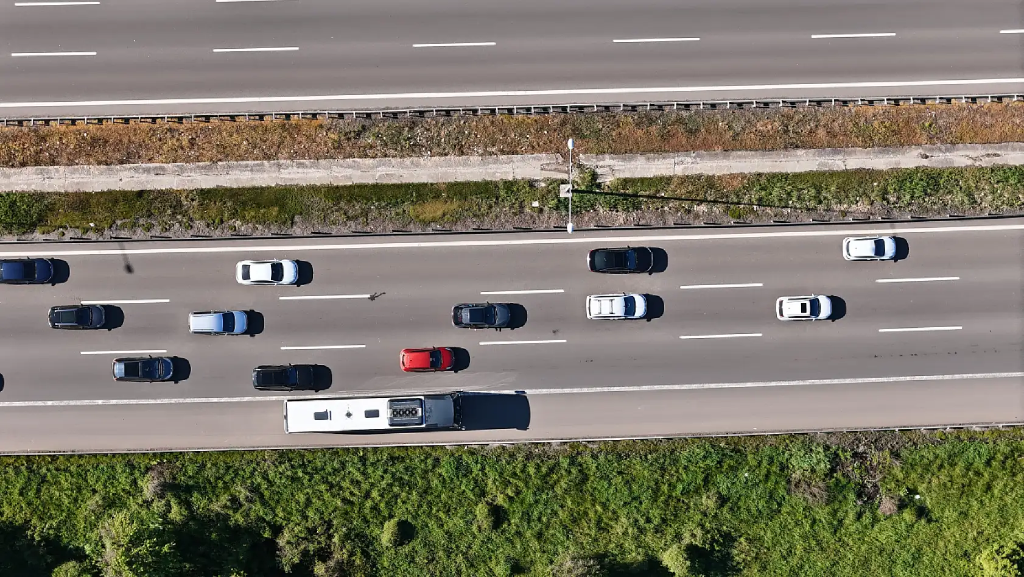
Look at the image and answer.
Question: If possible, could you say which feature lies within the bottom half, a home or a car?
car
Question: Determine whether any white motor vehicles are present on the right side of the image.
Yes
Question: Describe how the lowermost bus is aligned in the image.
from side to side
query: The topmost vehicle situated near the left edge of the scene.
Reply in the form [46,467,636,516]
[0,256,54,287]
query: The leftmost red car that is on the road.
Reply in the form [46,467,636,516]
[399,345,455,375]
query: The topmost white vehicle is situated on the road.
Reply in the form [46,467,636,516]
[843,234,896,263]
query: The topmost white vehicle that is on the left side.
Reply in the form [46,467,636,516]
[235,257,298,288]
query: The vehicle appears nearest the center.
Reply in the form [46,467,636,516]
[451,300,511,331]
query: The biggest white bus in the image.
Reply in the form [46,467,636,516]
[281,390,464,435]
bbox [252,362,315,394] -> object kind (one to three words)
car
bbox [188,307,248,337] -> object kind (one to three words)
car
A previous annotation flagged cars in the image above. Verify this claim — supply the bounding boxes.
[0,256,54,287]
[586,291,647,322]
[235,257,298,288]
[252,362,315,394]
[843,234,896,263]
[399,345,455,375]
[188,307,248,337]
[587,244,653,275]
[451,300,511,331]
[48,302,106,333]
[776,293,832,323]
[111,354,173,385]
